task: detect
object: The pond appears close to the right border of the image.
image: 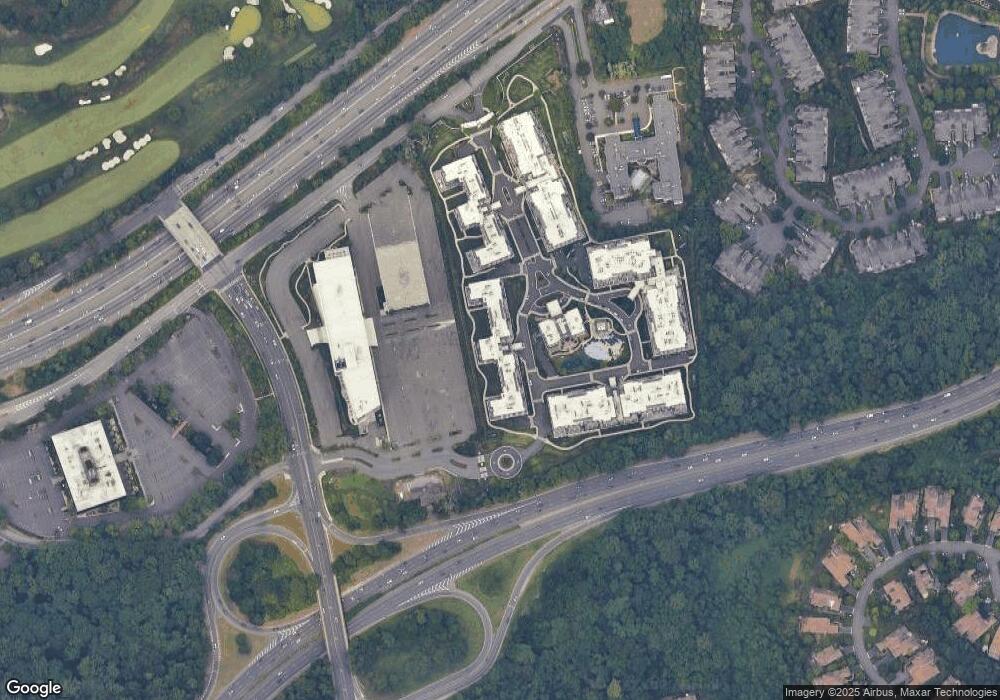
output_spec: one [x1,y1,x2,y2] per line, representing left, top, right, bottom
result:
[935,13,1000,66]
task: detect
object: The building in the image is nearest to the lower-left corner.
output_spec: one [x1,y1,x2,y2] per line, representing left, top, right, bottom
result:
[52,421,127,514]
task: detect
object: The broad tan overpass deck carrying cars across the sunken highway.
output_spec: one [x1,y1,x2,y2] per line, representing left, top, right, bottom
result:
[157,198,226,270]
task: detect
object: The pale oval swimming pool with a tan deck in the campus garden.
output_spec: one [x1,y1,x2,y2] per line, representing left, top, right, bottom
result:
[583,339,622,361]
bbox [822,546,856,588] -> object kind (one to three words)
house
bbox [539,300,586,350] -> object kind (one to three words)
building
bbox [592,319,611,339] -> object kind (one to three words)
building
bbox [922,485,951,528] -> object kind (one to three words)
house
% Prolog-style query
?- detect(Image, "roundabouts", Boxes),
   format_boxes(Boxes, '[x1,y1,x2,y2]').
[490,446,522,478]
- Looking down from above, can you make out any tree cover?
Yes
